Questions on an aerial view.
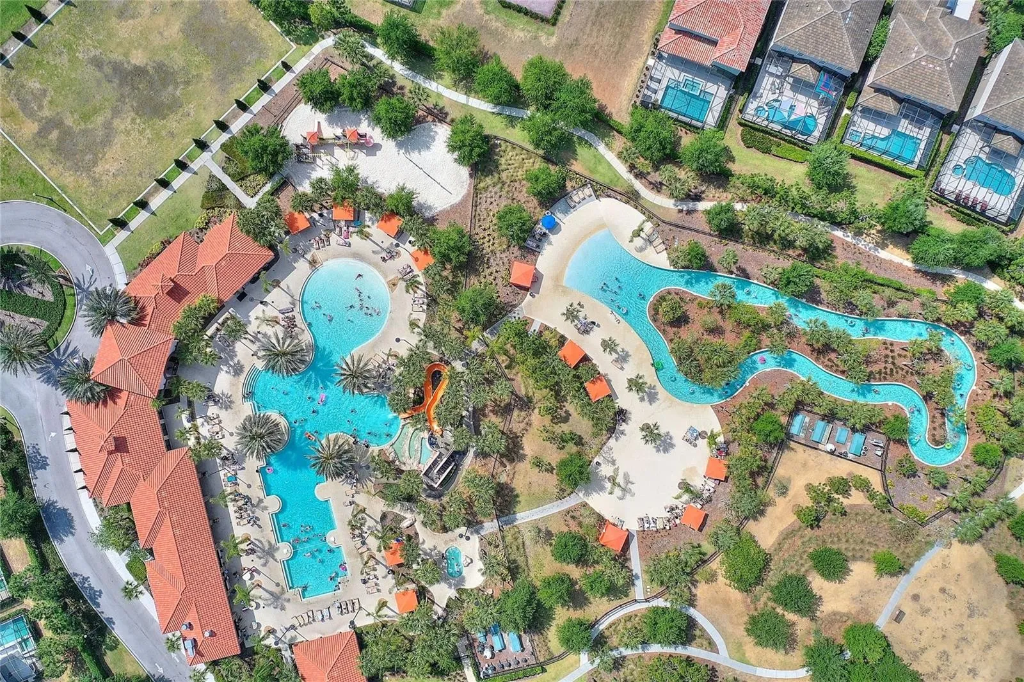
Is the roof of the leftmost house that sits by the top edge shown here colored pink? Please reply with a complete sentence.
Yes, pink is the color of the roof of the leftmost house that sits by the top edge.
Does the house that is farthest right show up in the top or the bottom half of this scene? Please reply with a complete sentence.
Seen from above, the house that is farthest right lies in the top half of the view.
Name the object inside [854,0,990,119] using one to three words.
house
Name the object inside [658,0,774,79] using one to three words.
house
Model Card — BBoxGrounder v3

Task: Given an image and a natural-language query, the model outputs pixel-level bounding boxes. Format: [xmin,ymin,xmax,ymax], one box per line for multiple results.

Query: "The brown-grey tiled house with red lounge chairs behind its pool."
[949,37,1024,157]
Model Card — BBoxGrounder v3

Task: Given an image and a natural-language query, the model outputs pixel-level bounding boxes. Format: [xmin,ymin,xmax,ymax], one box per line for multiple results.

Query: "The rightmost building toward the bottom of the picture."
[292,626,370,682]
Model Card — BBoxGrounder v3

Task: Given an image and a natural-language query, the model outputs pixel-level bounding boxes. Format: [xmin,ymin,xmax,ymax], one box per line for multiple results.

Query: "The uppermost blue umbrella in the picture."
[541,215,556,230]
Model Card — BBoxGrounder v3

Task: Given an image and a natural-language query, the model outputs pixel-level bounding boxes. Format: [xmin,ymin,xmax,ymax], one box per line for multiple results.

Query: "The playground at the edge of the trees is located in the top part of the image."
[296,123,375,161]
